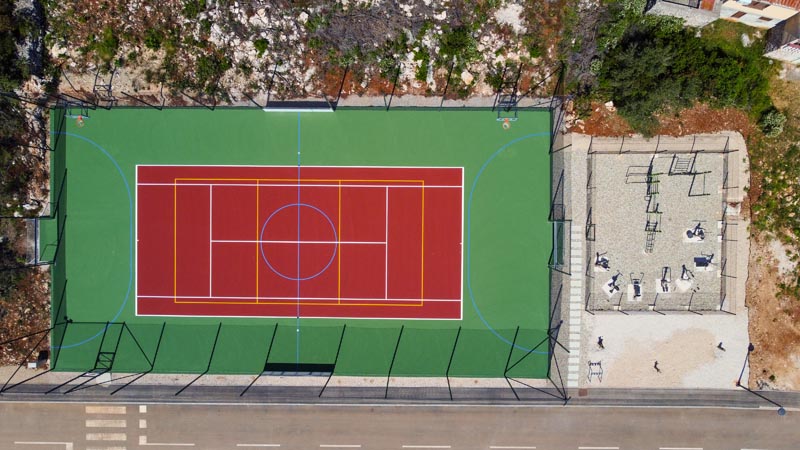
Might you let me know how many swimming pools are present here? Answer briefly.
0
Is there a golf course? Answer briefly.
No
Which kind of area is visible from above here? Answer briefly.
sports ground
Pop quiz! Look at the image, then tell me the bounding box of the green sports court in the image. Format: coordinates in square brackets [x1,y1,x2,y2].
[39,107,564,379]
